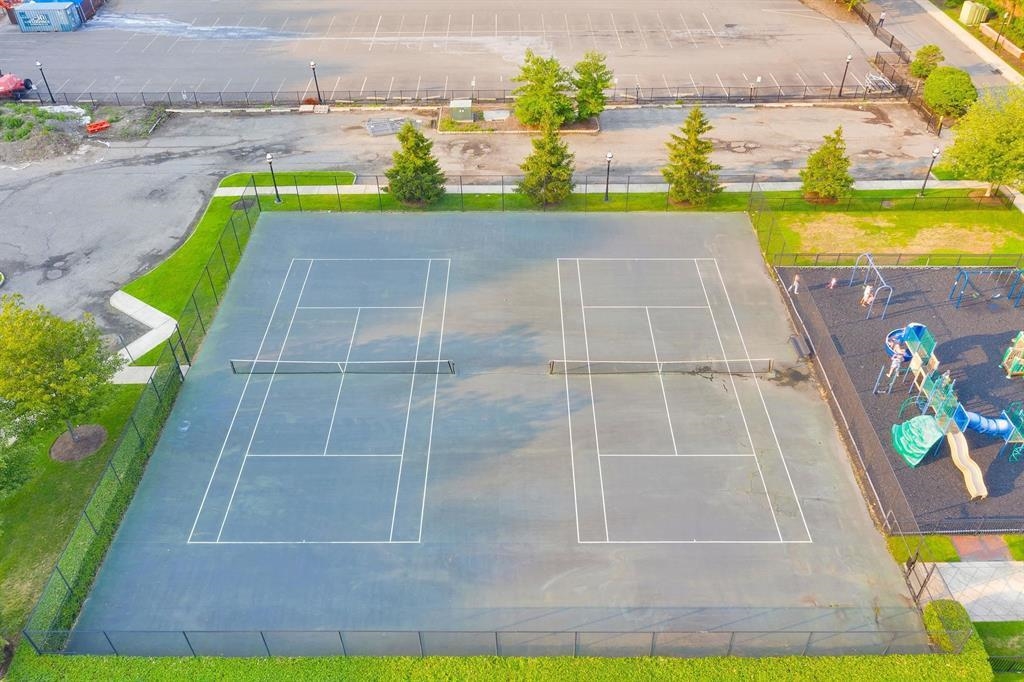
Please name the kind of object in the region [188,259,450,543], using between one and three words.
tennis court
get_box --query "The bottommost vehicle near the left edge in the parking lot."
[0,70,35,98]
